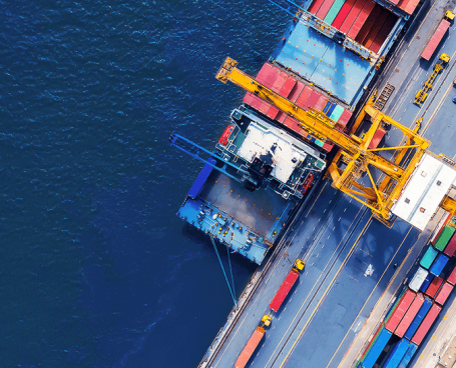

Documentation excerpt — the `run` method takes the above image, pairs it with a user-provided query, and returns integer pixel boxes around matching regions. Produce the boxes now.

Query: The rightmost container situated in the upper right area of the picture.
[421,18,451,61]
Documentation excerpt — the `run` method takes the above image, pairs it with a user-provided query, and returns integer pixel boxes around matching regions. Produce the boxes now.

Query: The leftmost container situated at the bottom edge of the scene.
[233,329,263,368]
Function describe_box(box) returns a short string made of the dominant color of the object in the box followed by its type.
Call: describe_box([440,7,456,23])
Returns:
yellow vehicle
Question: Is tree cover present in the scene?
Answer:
No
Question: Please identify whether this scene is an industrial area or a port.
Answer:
port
